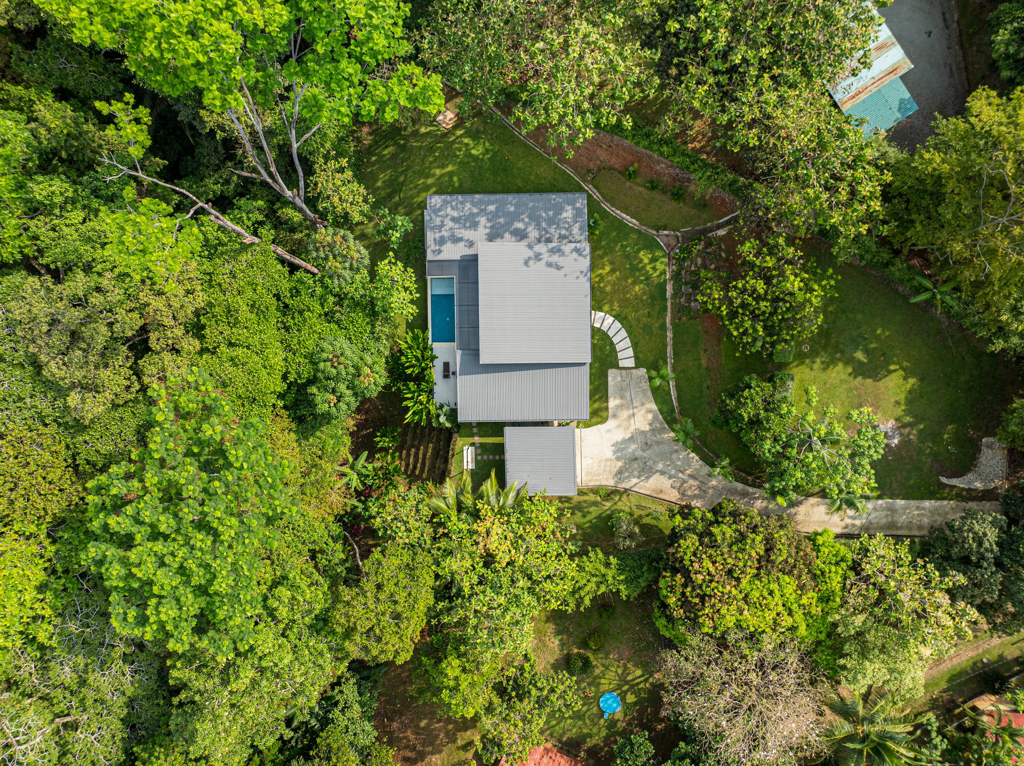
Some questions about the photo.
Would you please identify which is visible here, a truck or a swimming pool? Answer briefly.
swimming pool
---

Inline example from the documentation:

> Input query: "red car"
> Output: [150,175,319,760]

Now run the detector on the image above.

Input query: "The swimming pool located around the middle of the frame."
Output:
[427,277,456,365]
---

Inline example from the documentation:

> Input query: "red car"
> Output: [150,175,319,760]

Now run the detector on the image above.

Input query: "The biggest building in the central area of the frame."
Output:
[424,192,592,423]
